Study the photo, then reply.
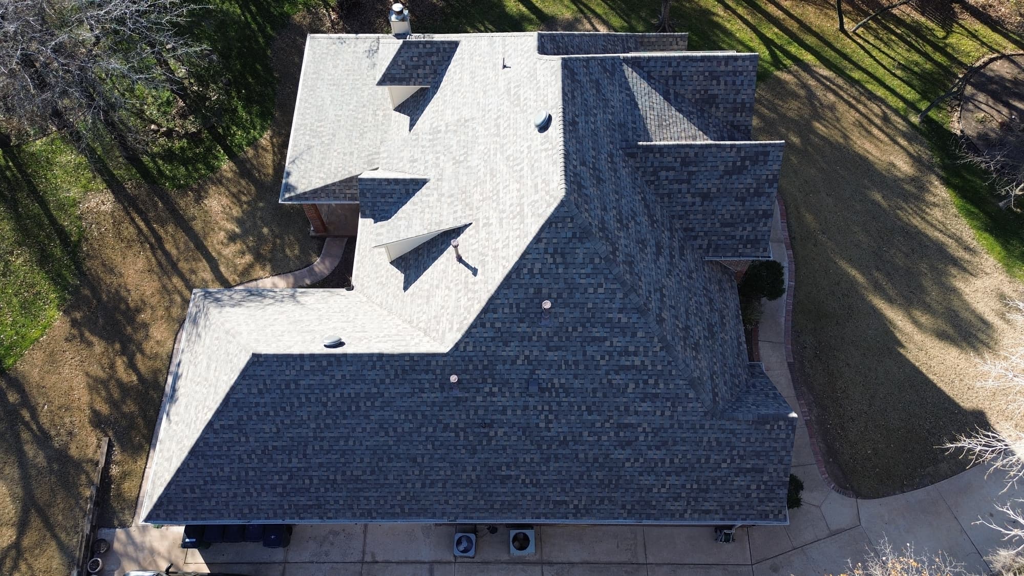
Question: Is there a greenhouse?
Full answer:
No, no greenhouse can be seen from above.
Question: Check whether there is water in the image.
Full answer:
No, there is no water in the image.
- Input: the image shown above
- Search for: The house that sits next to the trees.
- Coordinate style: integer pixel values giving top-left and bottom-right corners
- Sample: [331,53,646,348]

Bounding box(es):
[136,0,798,528]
